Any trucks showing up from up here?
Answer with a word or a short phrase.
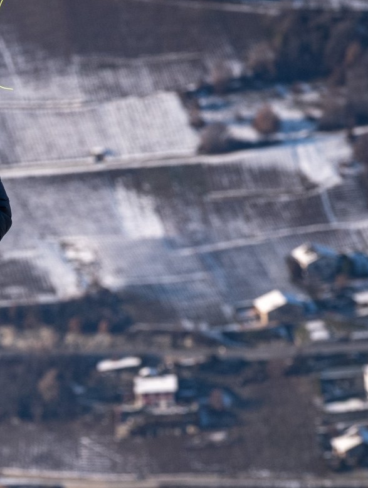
No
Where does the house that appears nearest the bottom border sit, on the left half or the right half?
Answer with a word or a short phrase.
right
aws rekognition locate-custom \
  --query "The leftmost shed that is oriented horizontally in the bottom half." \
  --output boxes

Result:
[94,359,143,373]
